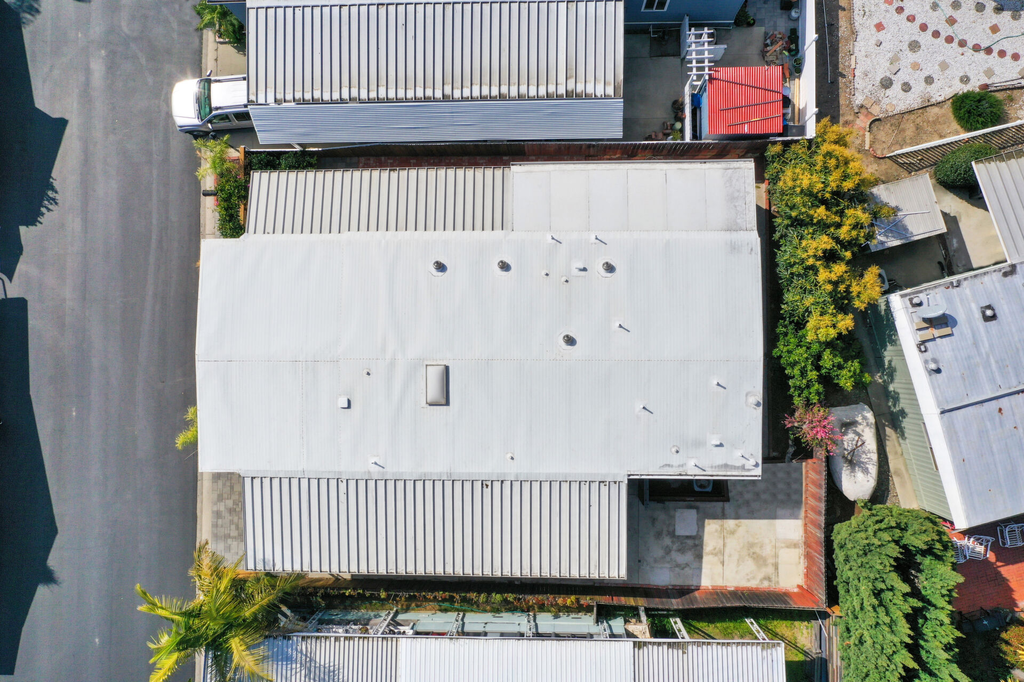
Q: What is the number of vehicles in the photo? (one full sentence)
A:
My tally gives 1 vehicle in this photo.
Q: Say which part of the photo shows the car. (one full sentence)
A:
Look in the top left portion of the view to spot the car.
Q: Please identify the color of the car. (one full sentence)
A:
The color of the car is white.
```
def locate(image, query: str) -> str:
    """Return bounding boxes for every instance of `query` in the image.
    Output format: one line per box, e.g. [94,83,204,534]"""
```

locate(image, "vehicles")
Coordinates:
[170,67,255,136]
